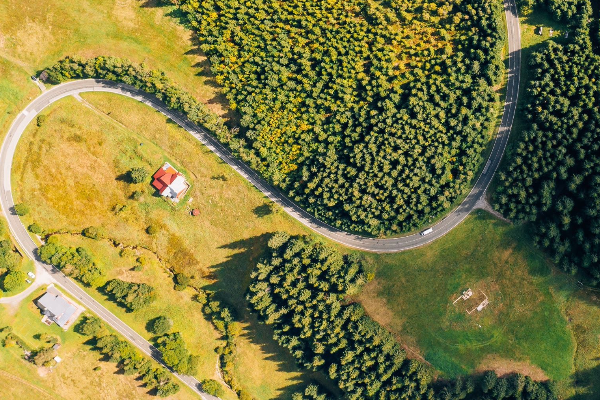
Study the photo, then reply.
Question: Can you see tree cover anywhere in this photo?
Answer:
Yes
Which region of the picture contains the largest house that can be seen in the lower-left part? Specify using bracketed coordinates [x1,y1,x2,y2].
[37,283,87,331]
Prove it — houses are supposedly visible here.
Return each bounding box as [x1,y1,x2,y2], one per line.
[37,283,87,331]
[153,162,192,206]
